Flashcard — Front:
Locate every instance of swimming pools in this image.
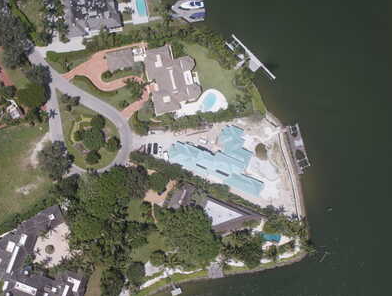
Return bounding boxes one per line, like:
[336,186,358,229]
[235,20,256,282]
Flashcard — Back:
[135,0,149,17]
[203,92,217,111]
[261,232,281,243]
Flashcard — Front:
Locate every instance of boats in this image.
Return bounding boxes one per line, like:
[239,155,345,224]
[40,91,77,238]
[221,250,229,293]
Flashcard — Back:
[189,12,207,19]
[180,0,206,8]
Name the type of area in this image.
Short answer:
residential area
